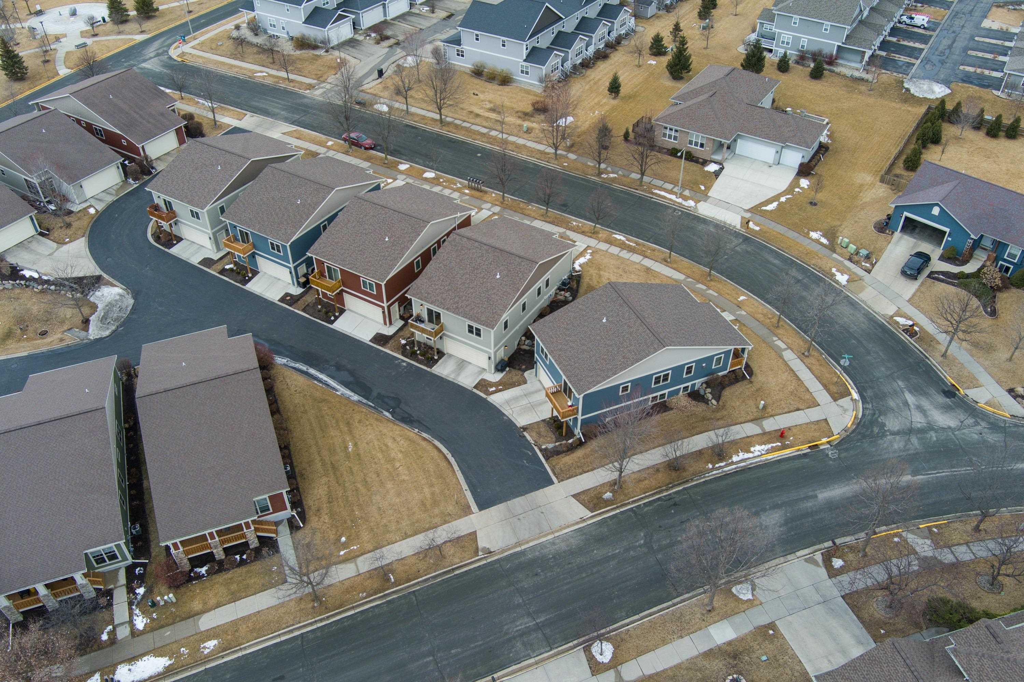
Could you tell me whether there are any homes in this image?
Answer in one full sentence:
Yes, there is a home in the image.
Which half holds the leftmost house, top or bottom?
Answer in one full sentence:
It is in the top half that the leftmost house appears.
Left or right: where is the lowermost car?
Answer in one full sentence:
The lowermost car is on the right side of the image.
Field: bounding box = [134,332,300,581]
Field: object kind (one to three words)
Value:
house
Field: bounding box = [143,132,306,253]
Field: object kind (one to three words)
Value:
house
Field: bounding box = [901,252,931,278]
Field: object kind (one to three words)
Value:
car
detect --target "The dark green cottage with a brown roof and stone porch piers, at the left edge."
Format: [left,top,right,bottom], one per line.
[0,359,155,623]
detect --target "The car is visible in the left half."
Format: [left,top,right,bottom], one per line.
[342,131,375,149]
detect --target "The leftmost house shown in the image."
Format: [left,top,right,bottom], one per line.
[0,183,53,253]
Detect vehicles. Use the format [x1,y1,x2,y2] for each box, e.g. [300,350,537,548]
[342,131,375,149]
[900,12,932,28]
[901,252,931,278]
